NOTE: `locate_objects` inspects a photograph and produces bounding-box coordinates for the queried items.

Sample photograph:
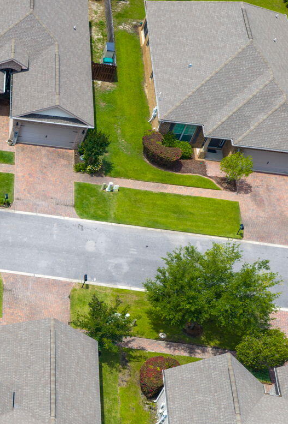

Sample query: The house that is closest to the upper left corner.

[0,0,96,151]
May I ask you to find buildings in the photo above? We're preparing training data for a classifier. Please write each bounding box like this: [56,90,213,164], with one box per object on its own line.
[0,0,96,151]
[142,361,288,424]
[0,318,104,424]
[135,0,288,179]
